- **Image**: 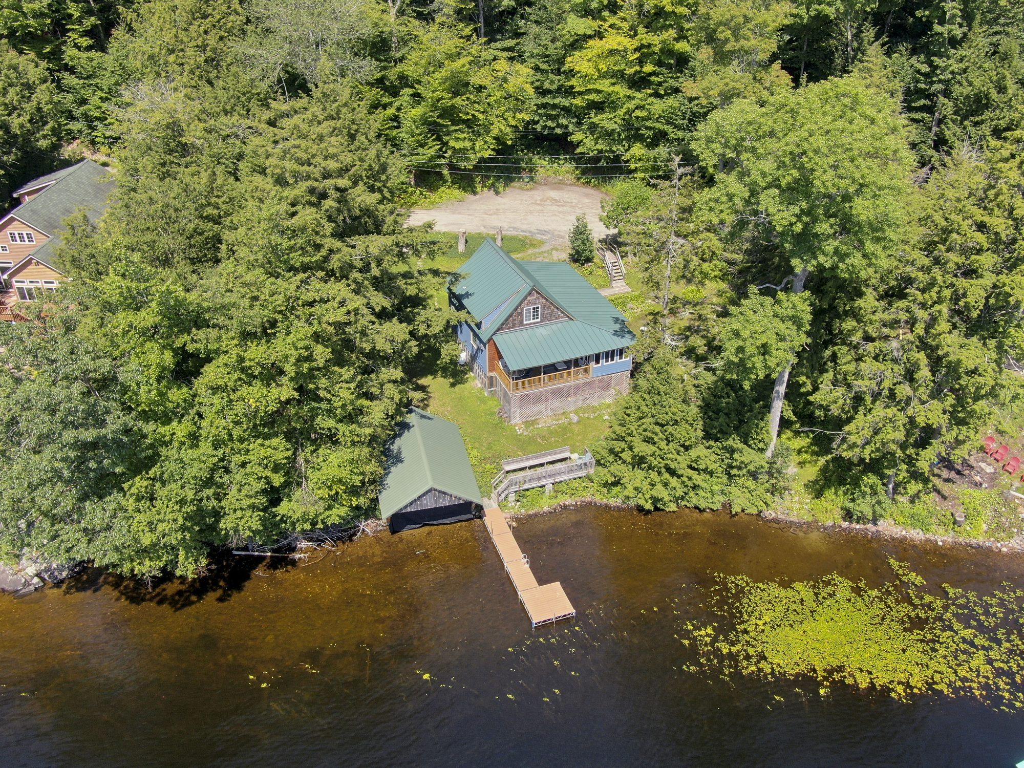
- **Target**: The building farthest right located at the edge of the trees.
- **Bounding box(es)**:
[444,238,636,425]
